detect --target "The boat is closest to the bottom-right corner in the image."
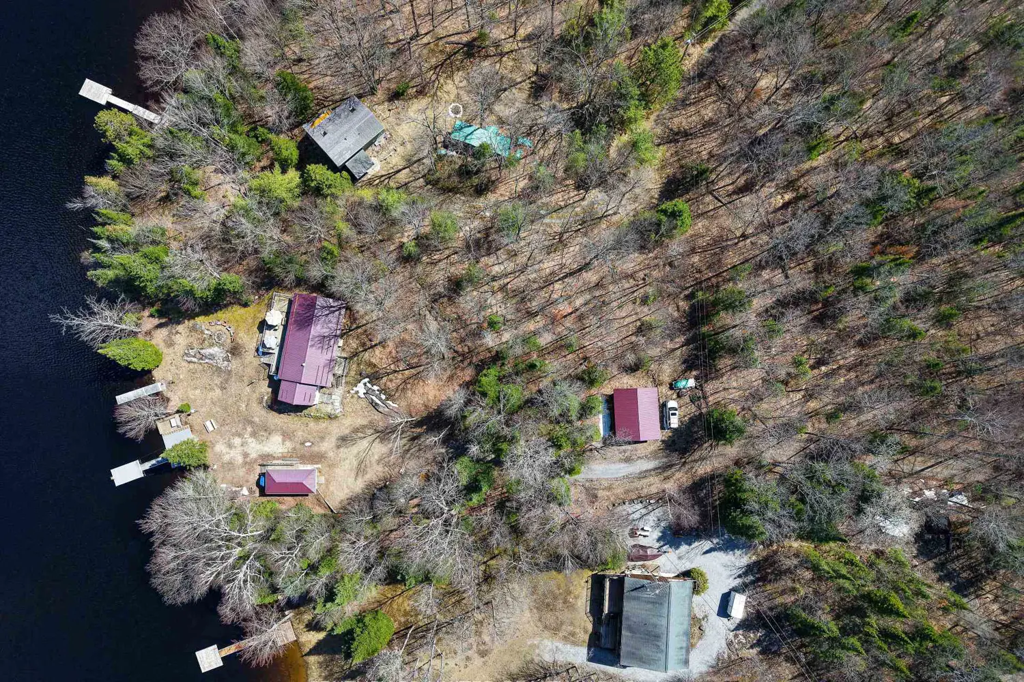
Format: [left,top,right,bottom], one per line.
[627,546,670,562]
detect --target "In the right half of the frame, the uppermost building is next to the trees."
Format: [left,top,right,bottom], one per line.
[614,387,661,441]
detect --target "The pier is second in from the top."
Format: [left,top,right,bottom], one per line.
[115,382,167,405]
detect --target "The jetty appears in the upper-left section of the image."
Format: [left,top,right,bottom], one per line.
[78,78,170,126]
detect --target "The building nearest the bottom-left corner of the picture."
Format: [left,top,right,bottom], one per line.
[265,468,318,495]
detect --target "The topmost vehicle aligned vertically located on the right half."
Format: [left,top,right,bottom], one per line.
[665,399,679,428]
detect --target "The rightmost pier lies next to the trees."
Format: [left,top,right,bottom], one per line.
[195,621,297,673]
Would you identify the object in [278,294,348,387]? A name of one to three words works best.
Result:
building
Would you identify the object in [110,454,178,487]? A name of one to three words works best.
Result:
pier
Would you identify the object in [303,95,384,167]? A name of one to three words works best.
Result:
building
